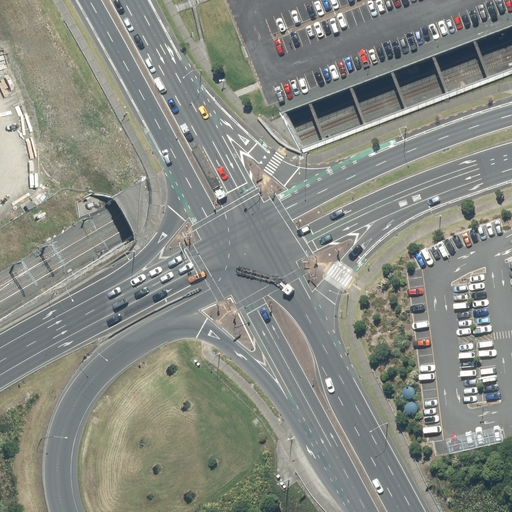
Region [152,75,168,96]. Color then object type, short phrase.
white vehicle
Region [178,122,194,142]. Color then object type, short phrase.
white vehicle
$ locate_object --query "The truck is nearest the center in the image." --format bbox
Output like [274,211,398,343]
[238,264,292,295]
